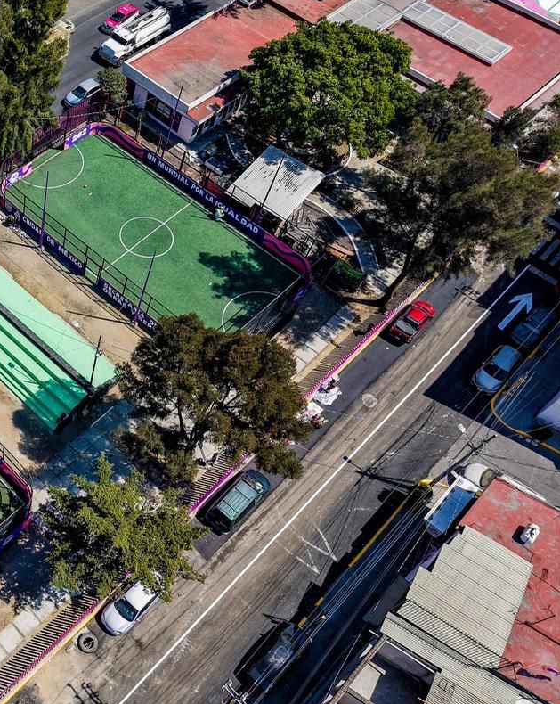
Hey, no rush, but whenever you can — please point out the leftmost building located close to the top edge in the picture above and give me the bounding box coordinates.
[120,0,305,153]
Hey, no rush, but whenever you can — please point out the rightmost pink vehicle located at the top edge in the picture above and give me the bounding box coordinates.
[98,4,141,33]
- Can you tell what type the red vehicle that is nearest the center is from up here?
automobile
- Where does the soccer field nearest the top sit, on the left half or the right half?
left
